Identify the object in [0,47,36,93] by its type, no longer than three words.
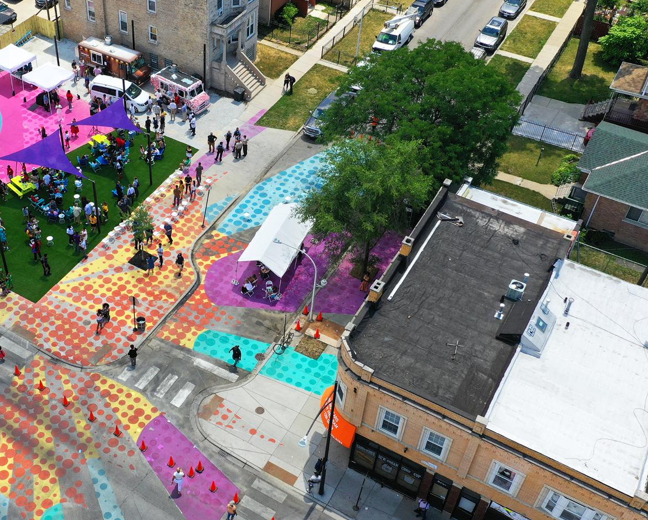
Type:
tent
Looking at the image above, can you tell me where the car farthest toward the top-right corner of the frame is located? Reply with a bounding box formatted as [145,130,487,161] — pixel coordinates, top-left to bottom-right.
[500,0,529,20]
